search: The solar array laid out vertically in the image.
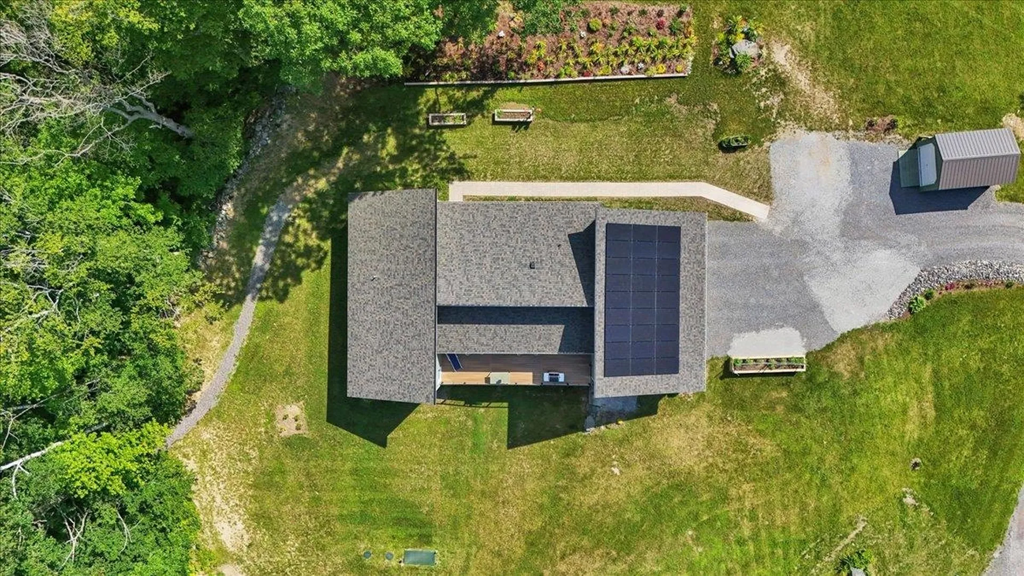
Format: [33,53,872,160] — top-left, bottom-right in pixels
[604,224,681,377]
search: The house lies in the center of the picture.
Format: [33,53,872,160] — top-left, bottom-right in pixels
[347,188,708,404]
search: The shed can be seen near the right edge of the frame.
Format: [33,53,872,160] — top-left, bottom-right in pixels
[898,128,1020,192]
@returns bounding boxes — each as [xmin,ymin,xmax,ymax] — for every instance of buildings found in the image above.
[898,128,1020,192]
[347,188,708,404]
